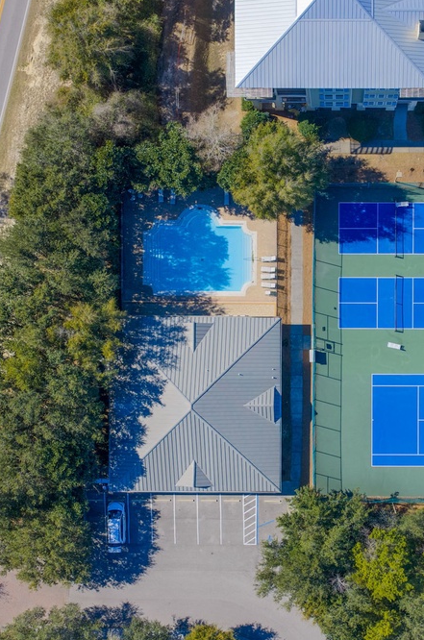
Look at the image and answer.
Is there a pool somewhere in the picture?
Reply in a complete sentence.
Yes, this view includes a pool.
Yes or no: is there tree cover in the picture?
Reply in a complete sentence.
Yes, the picture does contain tree cover.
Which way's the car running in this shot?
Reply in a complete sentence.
What the image shows is the car lying up and down.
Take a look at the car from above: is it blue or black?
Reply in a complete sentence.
The car is blue.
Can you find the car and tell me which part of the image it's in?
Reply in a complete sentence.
The car is in the bottom left part of the image.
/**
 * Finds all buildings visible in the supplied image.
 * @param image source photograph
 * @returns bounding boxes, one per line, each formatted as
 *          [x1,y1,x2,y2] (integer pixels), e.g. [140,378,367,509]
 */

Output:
[95,315,282,494]
[226,0,424,111]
